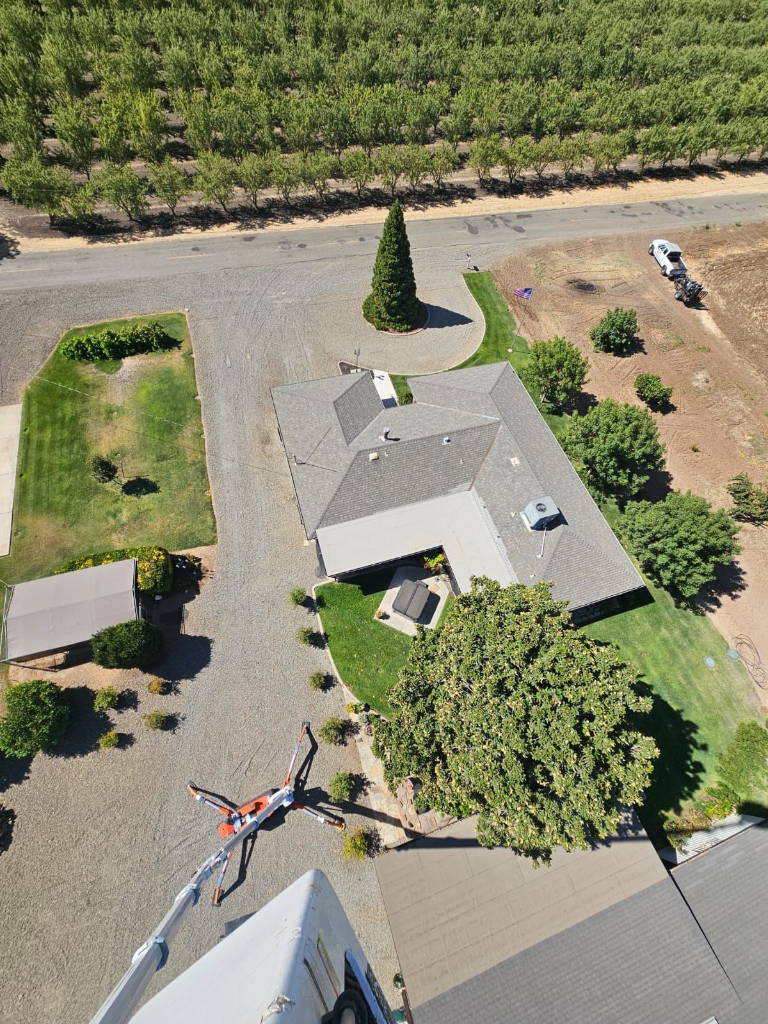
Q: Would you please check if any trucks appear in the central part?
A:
No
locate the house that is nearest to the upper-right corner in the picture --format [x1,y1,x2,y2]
[269,360,644,635]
